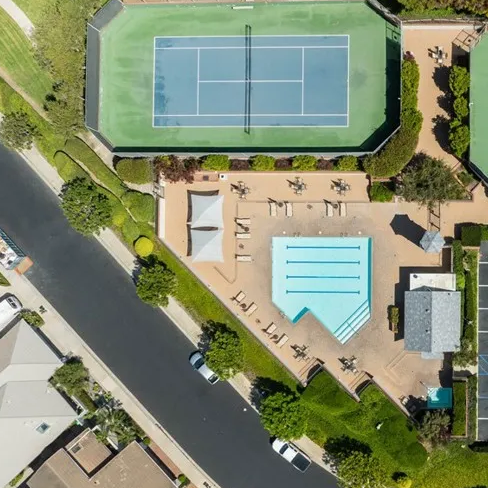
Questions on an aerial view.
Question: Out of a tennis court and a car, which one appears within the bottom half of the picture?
car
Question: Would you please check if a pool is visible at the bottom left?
No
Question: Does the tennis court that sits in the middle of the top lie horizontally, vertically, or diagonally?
horizontally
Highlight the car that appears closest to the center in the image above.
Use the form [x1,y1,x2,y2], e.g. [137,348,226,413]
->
[188,351,219,386]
